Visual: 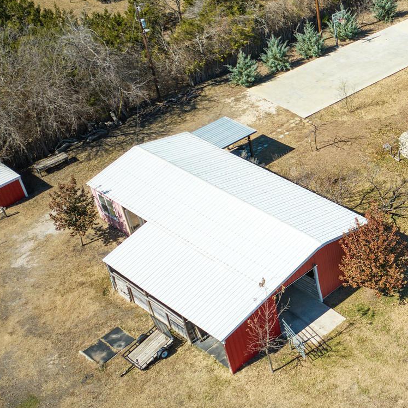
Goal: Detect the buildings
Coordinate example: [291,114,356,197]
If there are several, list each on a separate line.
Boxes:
[0,158,27,206]
[86,130,371,373]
